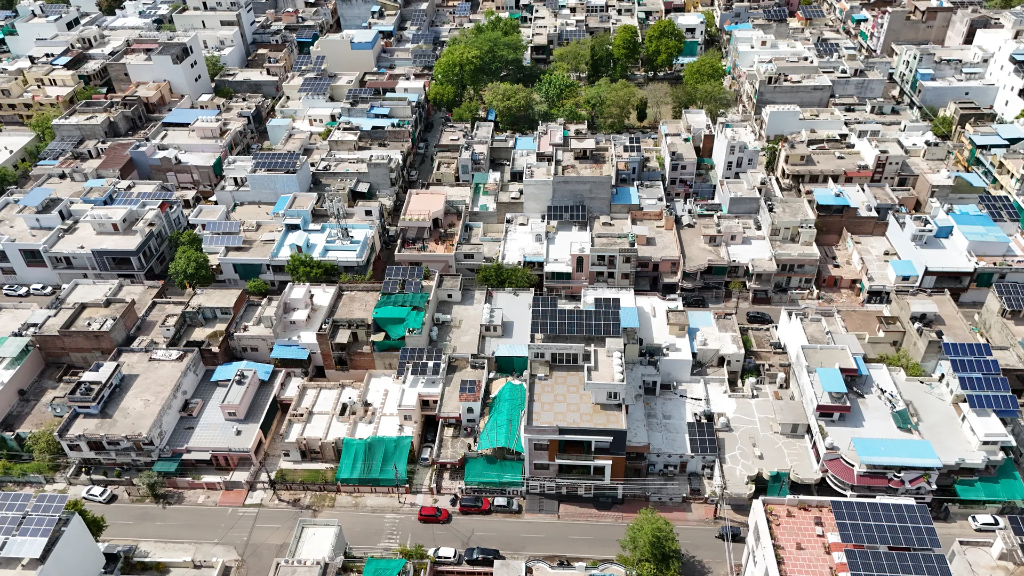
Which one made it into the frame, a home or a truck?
home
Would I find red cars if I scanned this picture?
Yes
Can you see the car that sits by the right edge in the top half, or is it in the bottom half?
bottom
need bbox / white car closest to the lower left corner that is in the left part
[79,485,115,507]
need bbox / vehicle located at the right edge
[966,513,1009,535]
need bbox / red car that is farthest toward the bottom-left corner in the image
[416,506,450,525]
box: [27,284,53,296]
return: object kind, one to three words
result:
vehicle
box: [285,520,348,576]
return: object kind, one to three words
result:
house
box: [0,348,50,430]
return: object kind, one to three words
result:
house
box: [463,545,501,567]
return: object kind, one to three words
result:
car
